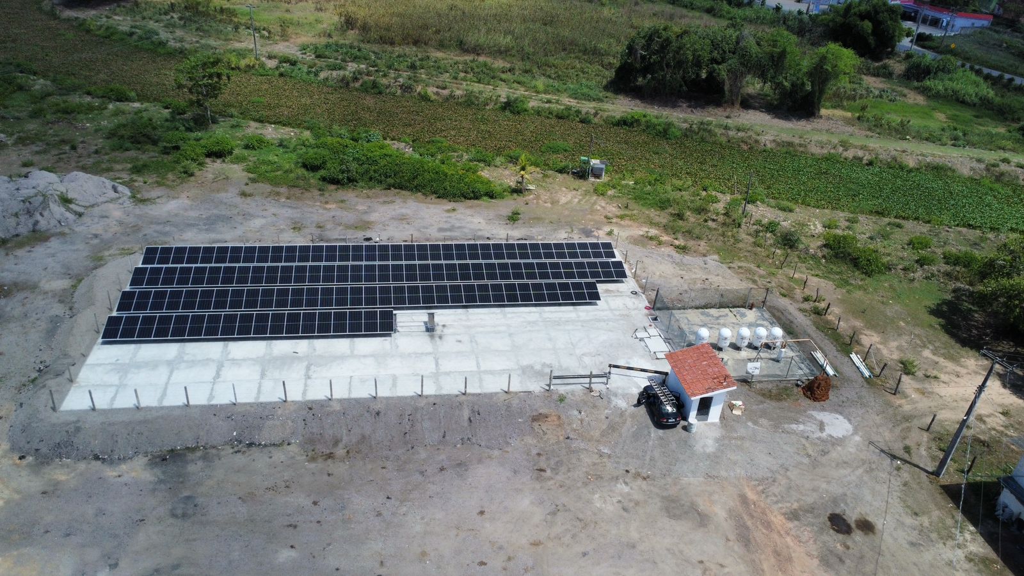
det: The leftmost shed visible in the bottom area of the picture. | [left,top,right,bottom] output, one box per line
[666,344,738,425]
